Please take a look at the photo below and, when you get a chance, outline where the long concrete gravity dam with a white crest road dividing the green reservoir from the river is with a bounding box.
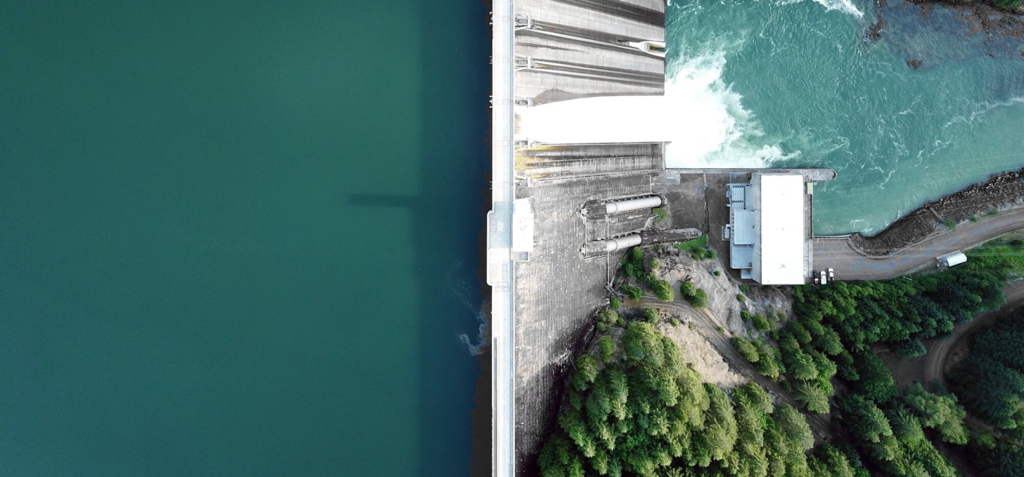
[485,0,672,477]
